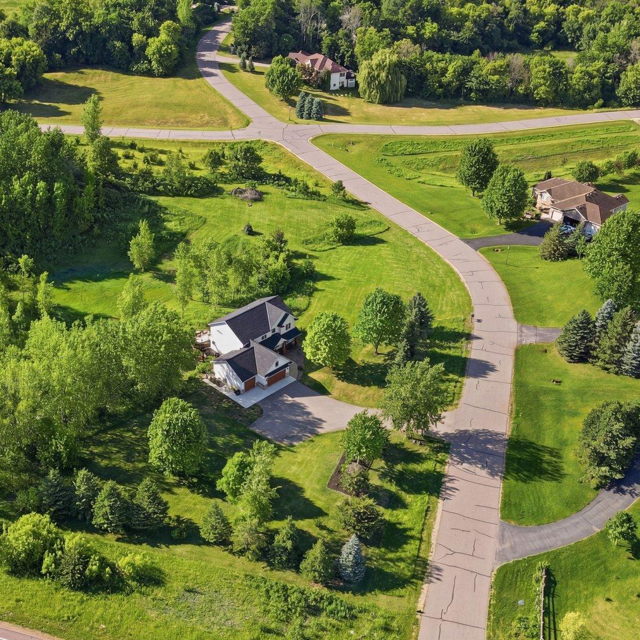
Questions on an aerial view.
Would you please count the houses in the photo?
3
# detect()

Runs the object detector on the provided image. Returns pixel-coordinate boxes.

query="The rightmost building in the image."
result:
[533,177,633,236]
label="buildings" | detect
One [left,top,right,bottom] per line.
[283,50,357,90]
[209,296,303,393]
[533,177,633,236]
